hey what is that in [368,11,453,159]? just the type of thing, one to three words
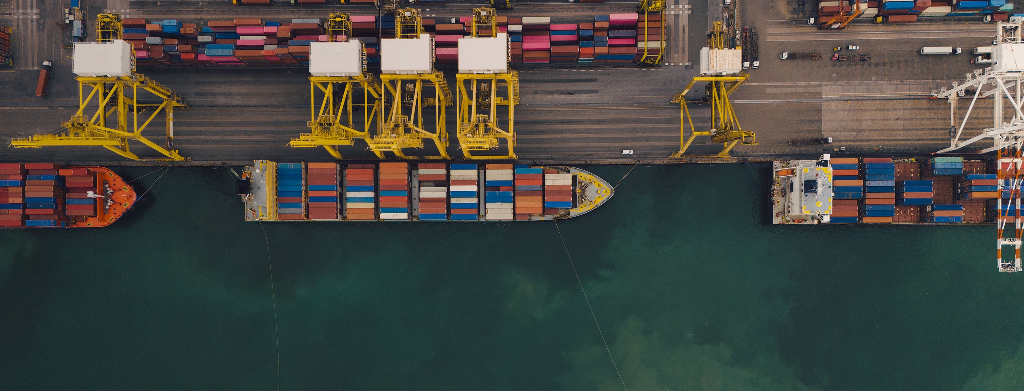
container crane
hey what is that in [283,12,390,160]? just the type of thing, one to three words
container crane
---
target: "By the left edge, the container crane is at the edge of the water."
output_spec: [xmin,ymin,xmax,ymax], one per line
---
[3,13,189,161]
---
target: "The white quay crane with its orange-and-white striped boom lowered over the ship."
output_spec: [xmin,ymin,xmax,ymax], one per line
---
[927,15,1024,272]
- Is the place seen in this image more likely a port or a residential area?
port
